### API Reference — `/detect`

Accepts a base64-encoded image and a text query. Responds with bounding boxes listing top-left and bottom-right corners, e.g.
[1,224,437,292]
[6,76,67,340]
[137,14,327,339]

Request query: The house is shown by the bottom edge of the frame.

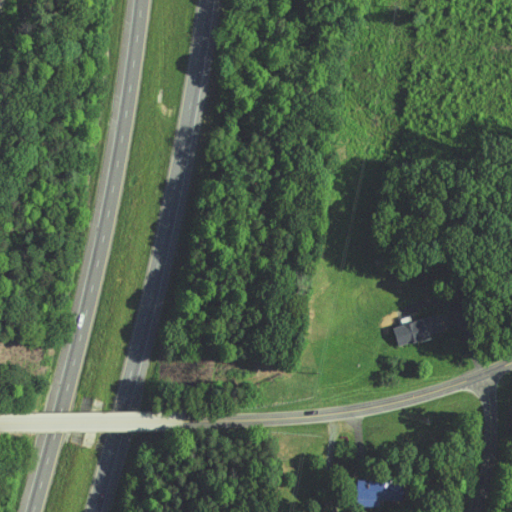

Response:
[356,479,404,507]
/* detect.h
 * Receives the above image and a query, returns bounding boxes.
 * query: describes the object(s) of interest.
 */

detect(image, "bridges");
[0,412,185,434]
